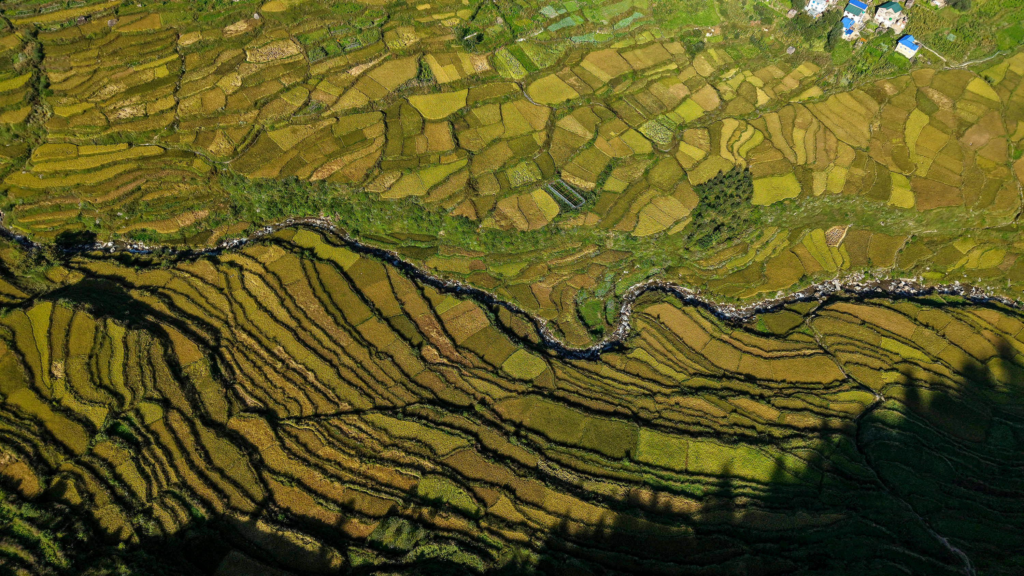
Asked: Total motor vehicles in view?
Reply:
0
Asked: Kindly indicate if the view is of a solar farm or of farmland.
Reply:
farmland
